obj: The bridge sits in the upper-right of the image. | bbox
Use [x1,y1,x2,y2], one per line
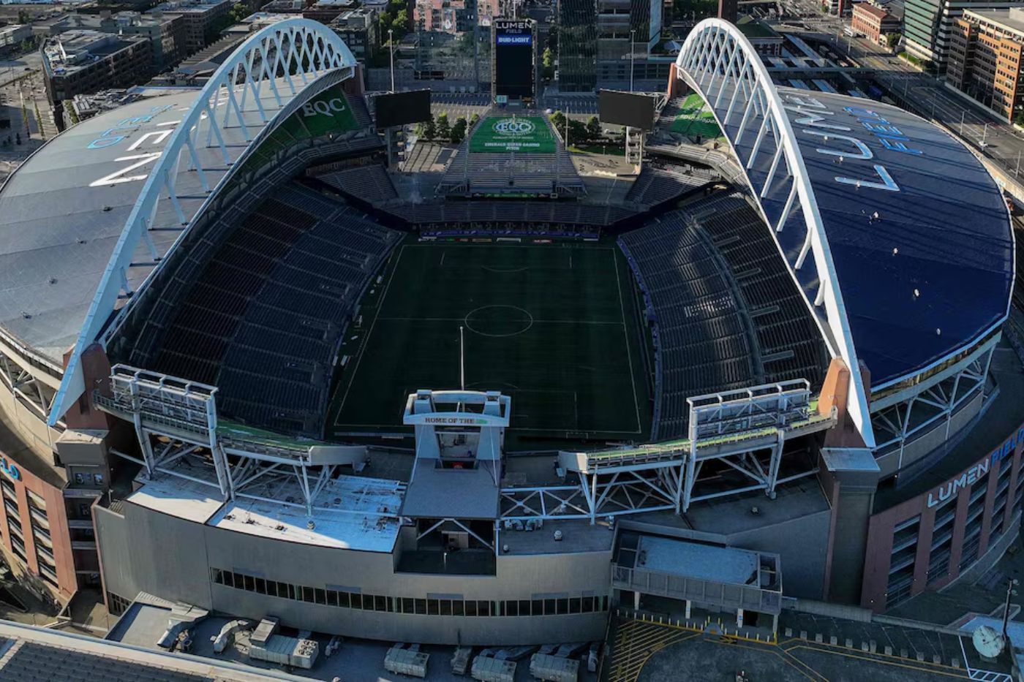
[699,66,940,84]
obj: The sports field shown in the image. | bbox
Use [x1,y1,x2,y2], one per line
[320,233,658,441]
